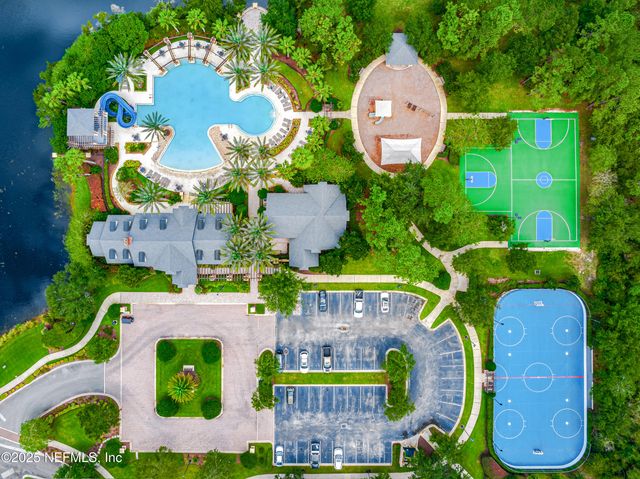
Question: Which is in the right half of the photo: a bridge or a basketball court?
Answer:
basketball court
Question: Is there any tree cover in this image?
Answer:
Yes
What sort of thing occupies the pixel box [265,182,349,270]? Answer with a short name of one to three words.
building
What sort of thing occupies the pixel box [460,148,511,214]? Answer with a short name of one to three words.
basketball court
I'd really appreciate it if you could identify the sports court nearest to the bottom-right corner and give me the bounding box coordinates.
[492,289,591,472]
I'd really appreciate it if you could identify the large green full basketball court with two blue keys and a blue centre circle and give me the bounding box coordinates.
[508,109,581,250]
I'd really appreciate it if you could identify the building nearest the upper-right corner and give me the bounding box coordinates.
[384,34,418,69]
